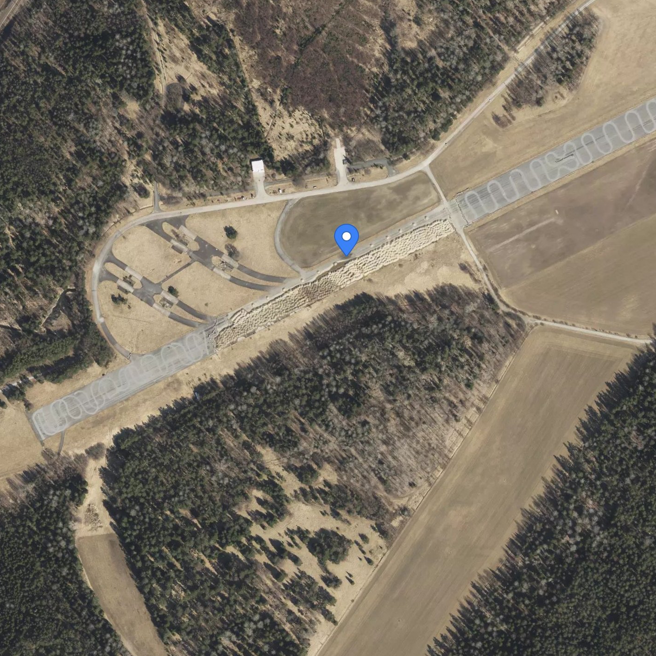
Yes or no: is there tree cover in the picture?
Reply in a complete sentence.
Yes, some tree cover is visible.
